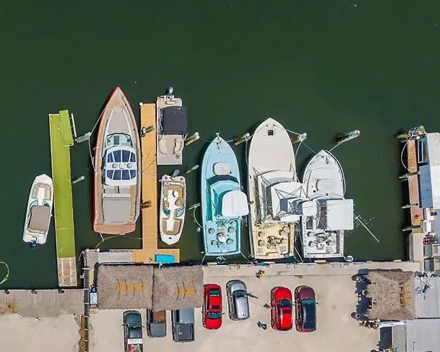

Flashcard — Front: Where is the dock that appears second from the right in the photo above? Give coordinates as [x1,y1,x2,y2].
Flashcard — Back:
[131,103,179,264]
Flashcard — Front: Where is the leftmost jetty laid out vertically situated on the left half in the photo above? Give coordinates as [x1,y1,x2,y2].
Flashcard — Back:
[49,113,77,286]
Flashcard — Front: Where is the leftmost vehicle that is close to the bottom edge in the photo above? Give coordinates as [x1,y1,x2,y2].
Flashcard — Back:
[121,310,144,352]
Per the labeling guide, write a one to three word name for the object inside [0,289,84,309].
pier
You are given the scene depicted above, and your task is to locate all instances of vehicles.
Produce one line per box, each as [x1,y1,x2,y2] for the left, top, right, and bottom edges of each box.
[170,309,194,345]
[265,285,294,330]
[224,279,256,320]
[199,282,225,329]
[144,304,169,344]
[292,285,318,331]
[121,310,144,352]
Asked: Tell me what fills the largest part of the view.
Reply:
water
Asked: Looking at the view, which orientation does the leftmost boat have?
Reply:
up and down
